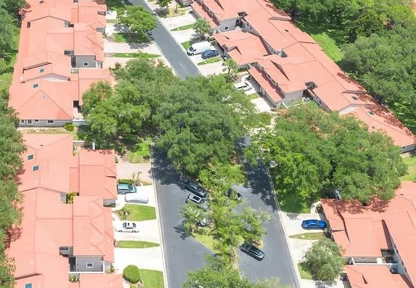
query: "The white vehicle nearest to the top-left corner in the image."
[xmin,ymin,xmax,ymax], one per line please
[189,40,211,56]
